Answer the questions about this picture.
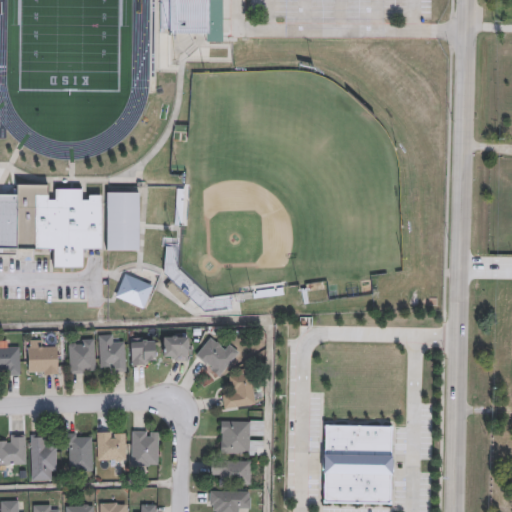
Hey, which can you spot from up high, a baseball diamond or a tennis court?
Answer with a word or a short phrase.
baseball diamond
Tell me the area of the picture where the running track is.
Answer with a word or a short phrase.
top left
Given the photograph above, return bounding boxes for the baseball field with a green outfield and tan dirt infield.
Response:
[178,69,402,297]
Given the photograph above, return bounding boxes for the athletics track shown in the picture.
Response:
[0,0,150,159]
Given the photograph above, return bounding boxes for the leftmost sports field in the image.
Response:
[7,0,133,142]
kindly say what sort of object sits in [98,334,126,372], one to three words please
house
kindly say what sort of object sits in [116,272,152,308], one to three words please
building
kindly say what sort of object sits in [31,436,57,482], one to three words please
house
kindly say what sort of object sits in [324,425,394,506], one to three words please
building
